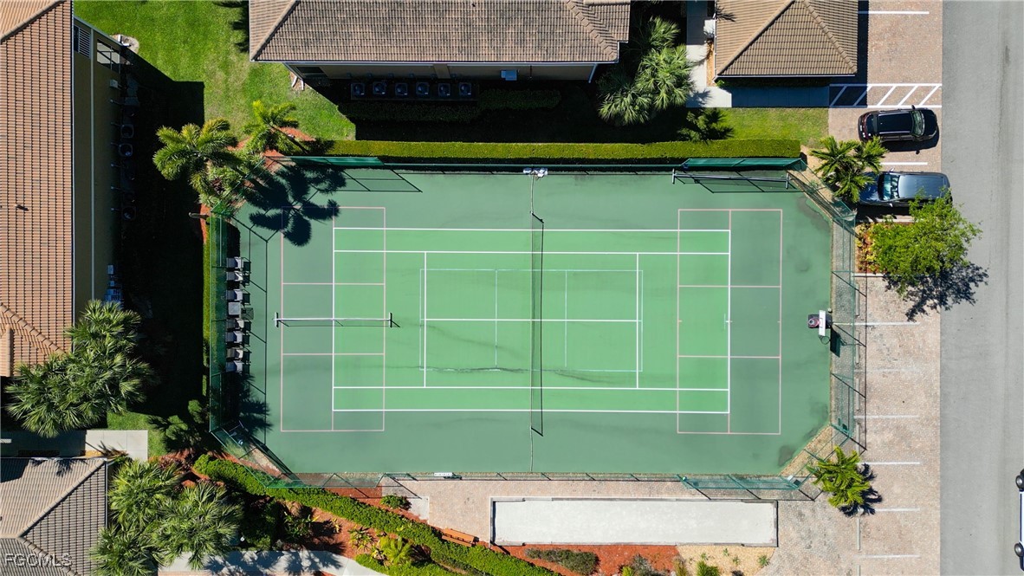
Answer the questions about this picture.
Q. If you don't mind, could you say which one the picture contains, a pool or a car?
car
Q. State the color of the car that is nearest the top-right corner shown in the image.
black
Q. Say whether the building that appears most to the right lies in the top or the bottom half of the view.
top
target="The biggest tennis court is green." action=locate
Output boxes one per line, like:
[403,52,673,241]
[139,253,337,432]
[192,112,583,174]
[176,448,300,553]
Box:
[227,166,832,475]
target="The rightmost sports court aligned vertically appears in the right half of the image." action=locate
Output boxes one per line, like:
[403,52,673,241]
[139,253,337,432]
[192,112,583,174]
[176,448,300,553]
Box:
[677,209,783,434]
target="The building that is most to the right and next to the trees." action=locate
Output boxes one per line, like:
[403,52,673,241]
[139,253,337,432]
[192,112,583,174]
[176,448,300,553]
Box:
[712,0,861,80]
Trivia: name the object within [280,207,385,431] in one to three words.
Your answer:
sports court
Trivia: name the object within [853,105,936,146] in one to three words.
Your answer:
car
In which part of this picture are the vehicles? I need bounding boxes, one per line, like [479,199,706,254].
[1014,470,1024,576]
[855,167,950,210]
[853,105,936,146]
